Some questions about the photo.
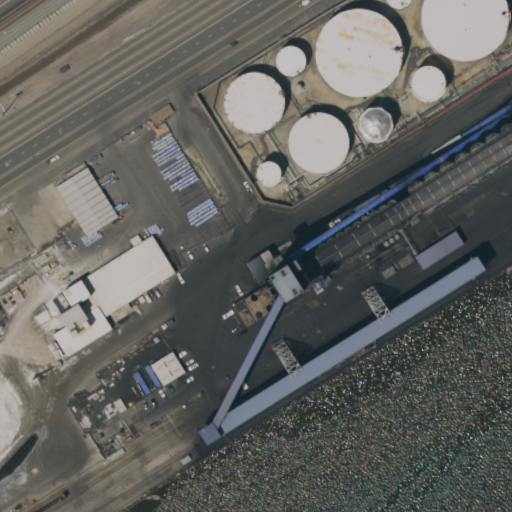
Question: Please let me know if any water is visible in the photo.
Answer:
Yes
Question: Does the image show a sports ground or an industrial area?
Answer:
industrial area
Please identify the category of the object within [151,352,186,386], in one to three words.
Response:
building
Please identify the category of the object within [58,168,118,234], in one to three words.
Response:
shed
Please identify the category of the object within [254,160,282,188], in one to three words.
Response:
storage tank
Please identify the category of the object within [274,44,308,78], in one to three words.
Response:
storage tank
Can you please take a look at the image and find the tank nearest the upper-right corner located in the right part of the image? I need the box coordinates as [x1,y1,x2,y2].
[420,0,510,63]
